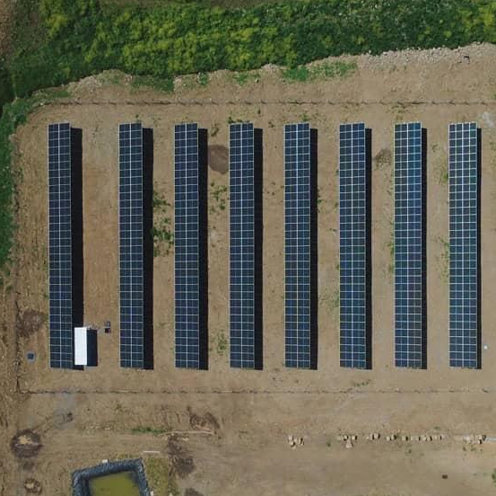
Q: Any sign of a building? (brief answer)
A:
No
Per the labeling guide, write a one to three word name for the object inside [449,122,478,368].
solar array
